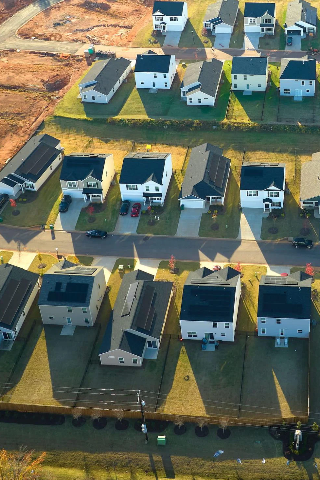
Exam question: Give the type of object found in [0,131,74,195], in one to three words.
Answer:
house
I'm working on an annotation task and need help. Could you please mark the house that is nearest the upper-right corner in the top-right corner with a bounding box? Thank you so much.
[285,0,318,35]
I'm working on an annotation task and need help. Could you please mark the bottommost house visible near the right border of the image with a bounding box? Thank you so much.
[256,271,313,340]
